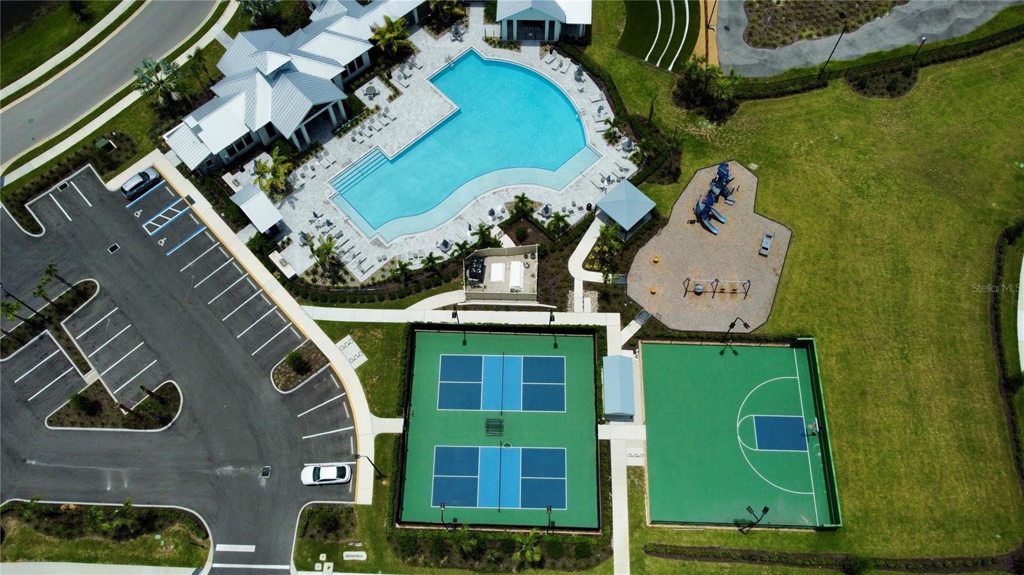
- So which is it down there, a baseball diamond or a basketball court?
basketball court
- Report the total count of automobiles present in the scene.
2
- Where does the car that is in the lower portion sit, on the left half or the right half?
left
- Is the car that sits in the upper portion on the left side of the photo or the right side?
left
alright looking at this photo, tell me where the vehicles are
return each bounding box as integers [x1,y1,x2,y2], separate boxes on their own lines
[301,460,351,484]
[117,168,161,200]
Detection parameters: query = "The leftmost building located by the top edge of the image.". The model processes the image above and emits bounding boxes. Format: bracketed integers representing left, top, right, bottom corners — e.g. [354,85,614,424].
[160,0,438,179]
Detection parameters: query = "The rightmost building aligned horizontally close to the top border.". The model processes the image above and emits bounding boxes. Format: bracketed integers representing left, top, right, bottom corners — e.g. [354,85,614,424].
[496,0,591,40]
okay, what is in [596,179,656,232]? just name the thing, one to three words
gazebo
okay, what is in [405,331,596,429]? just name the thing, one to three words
sports court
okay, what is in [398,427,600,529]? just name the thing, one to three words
sports court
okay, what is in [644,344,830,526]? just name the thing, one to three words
basketball court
